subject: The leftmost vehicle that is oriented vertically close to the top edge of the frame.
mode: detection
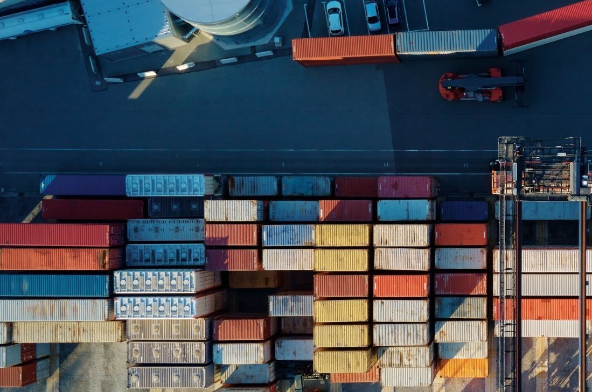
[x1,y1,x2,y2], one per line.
[325,0,346,37]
